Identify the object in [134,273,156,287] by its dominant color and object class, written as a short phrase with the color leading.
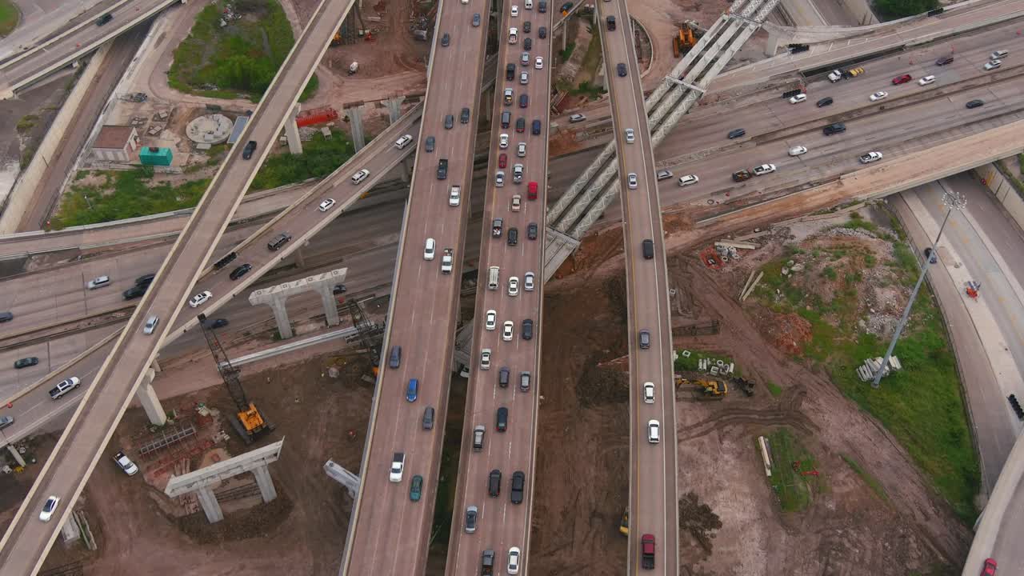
black car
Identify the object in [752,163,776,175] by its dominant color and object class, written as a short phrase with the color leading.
white vehicle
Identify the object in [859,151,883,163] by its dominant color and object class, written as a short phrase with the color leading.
white vehicle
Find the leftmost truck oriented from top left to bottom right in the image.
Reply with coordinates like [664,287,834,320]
[113,450,138,475]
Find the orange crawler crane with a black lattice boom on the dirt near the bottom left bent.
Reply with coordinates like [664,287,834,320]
[197,313,267,442]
